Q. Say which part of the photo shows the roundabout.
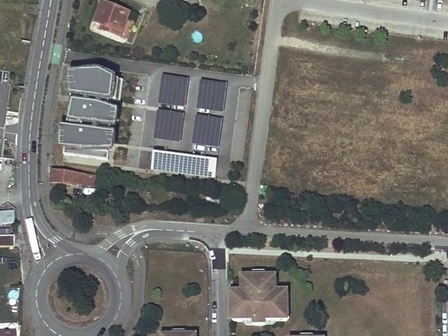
bottom left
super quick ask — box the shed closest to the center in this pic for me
[152,150,217,180]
